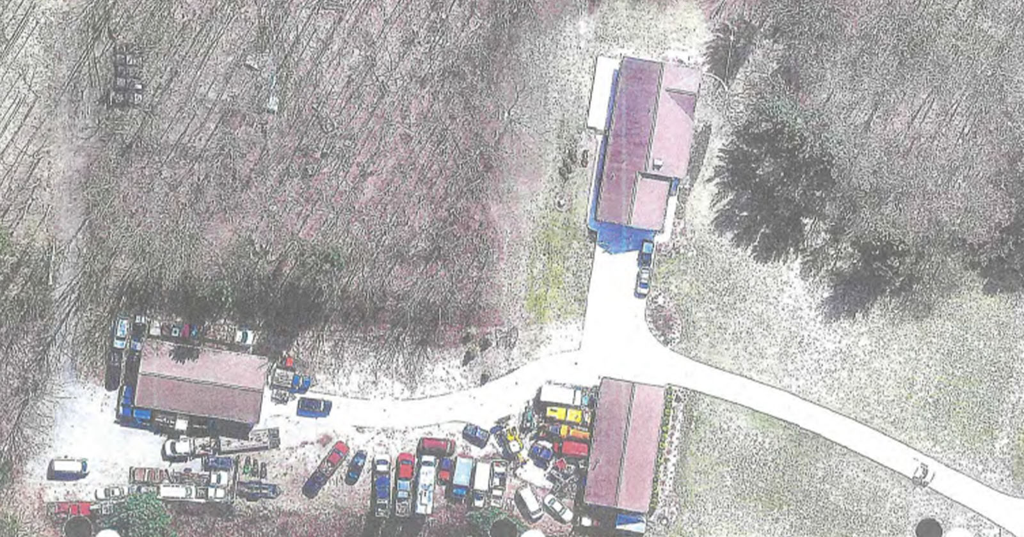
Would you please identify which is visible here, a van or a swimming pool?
van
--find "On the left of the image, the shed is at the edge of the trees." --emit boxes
[132,333,269,424]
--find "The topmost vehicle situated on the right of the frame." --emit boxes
[638,240,653,267]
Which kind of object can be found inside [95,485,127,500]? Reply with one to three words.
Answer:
car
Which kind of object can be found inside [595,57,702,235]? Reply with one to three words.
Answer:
house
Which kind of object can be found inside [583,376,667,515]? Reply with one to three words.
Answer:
shed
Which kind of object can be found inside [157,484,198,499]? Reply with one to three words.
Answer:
vehicle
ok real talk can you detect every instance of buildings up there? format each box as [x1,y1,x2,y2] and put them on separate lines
[595,57,702,235]
[583,376,667,515]
[132,333,269,424]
